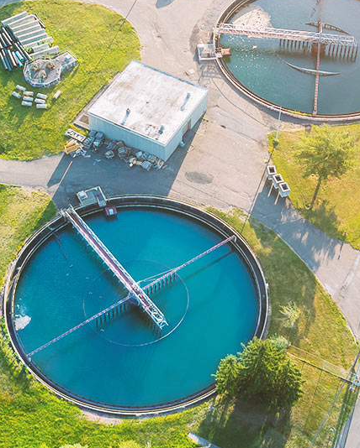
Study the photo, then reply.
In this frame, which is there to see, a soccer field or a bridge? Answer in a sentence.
The image shows a bridge.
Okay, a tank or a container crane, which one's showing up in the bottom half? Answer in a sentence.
Visible in the bottom half is a tank.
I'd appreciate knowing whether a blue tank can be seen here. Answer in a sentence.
Yes, a blue tank appears in the view.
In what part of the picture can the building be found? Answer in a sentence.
The building is located in the top region of the scene.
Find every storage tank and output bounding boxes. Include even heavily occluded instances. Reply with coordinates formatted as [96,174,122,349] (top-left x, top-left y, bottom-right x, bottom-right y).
[197,0,360,122]
[5,181,266,416]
